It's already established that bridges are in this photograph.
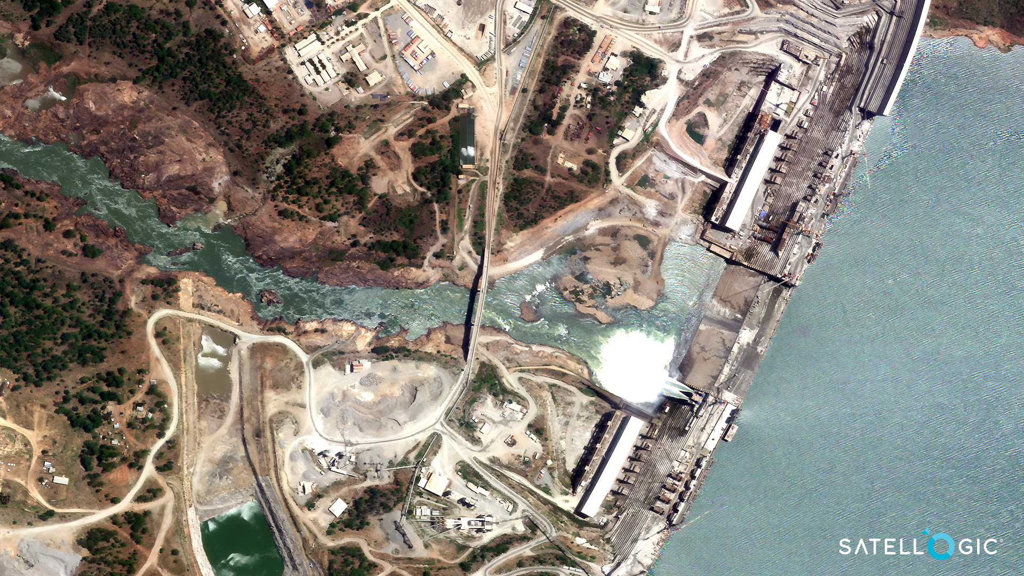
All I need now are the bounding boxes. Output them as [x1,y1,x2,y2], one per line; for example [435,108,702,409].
[465,244,490,366]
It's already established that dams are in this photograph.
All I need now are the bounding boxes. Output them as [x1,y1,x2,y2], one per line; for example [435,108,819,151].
[577,0,931,576]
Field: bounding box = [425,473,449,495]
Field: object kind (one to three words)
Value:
building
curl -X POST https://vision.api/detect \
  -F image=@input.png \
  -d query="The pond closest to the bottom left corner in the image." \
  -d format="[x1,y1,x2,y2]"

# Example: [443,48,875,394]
[198,329,236,395]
